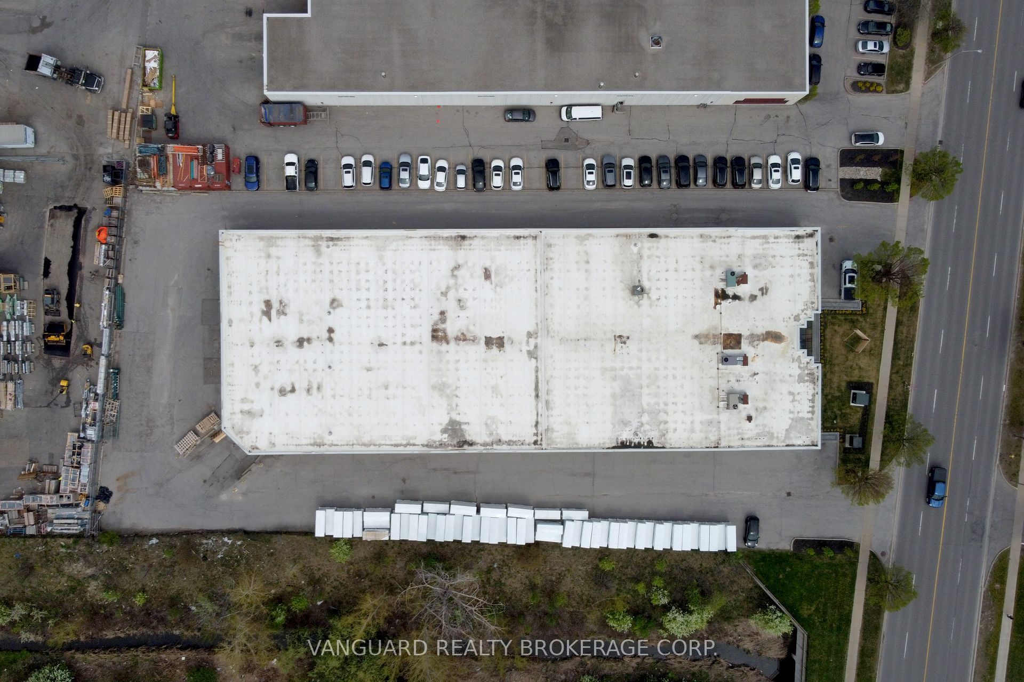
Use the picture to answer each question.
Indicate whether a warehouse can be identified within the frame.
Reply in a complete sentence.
Yes, there's a warehouse here.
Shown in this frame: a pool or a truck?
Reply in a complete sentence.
Visible in the photo is a truck.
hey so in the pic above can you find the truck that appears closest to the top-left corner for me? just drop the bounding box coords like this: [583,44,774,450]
[21,48,103,91]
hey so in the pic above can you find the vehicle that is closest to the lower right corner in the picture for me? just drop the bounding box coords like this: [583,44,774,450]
[925,466,947,506]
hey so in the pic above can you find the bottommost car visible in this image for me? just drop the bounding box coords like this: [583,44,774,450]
[743,515,760,547]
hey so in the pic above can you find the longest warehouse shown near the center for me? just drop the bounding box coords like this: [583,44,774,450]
[218,227,823,455]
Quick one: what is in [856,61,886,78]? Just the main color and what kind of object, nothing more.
black car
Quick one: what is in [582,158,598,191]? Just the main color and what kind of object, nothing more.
white car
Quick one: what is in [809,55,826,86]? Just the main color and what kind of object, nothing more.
black car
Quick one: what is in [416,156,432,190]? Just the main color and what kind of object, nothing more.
white car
